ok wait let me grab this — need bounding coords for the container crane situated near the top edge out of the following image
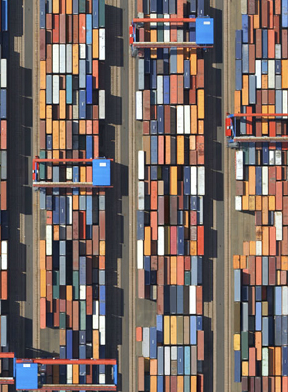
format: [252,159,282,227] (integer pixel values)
[129,17,214,60]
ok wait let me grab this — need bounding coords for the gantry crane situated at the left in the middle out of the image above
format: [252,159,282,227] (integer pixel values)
[29,156,113,198]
